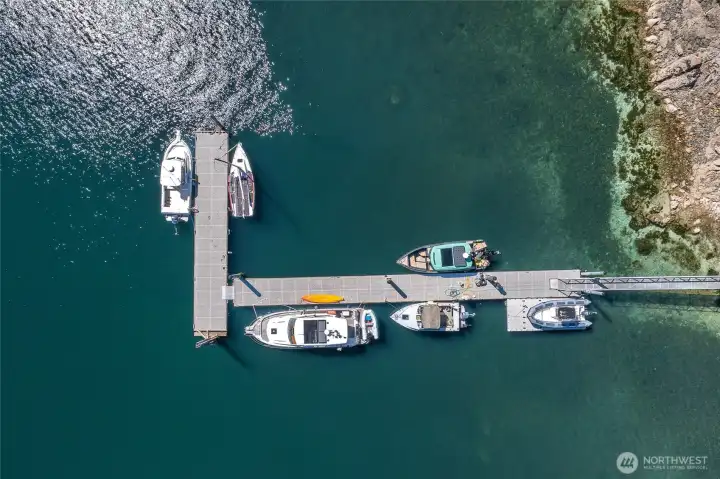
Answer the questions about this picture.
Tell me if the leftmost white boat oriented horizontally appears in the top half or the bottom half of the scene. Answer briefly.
bottom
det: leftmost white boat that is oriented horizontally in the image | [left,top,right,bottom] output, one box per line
[245,308,373,350]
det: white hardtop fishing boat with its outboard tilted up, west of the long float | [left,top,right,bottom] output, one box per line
[161,129,194,230]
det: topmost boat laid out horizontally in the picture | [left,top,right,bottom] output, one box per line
[397,241,499,274]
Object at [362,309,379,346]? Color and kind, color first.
white boat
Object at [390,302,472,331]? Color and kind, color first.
white boat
